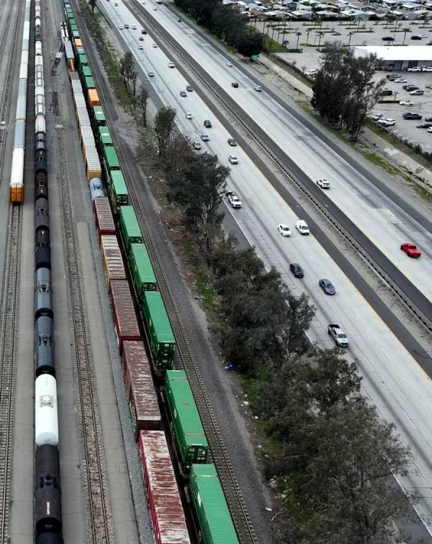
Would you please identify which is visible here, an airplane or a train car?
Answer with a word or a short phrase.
train car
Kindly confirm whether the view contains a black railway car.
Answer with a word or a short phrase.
Yes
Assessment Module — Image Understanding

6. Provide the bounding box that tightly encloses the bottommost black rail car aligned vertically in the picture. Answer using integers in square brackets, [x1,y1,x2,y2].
[35,448,62,544]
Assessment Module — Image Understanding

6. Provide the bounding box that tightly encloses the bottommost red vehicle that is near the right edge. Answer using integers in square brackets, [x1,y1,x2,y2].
[400,242,423,258]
